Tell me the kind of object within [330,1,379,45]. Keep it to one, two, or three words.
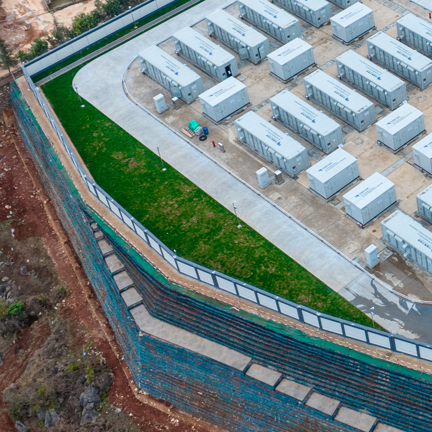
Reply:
building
